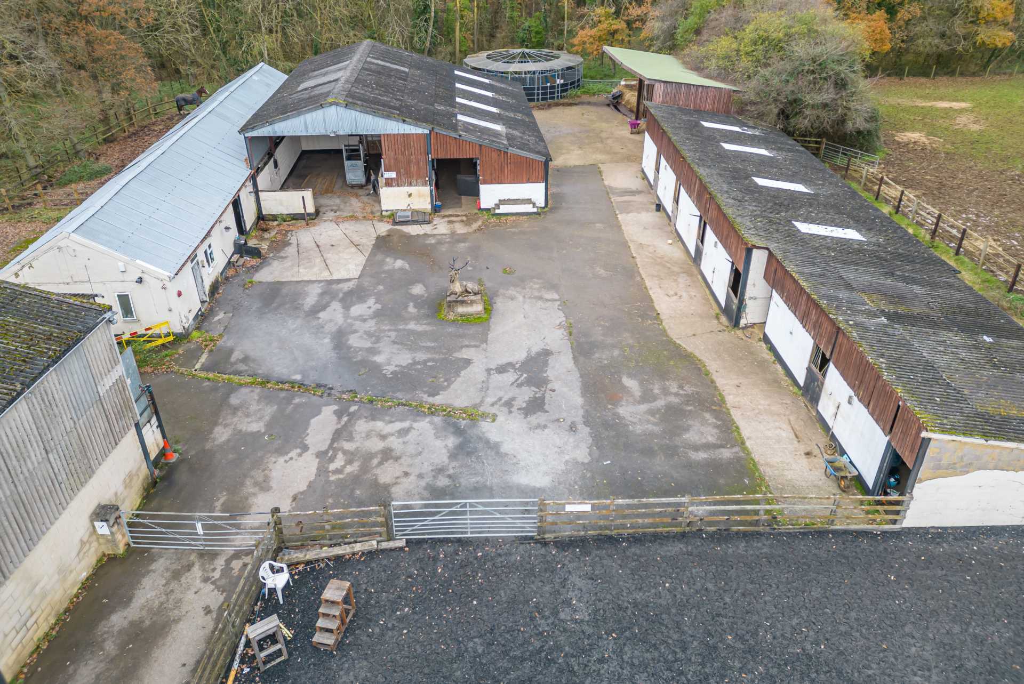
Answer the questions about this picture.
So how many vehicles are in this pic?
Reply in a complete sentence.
I count no vehicles.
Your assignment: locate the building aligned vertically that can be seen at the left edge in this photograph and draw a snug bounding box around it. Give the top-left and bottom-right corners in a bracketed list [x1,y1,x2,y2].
[0,280,164,684]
